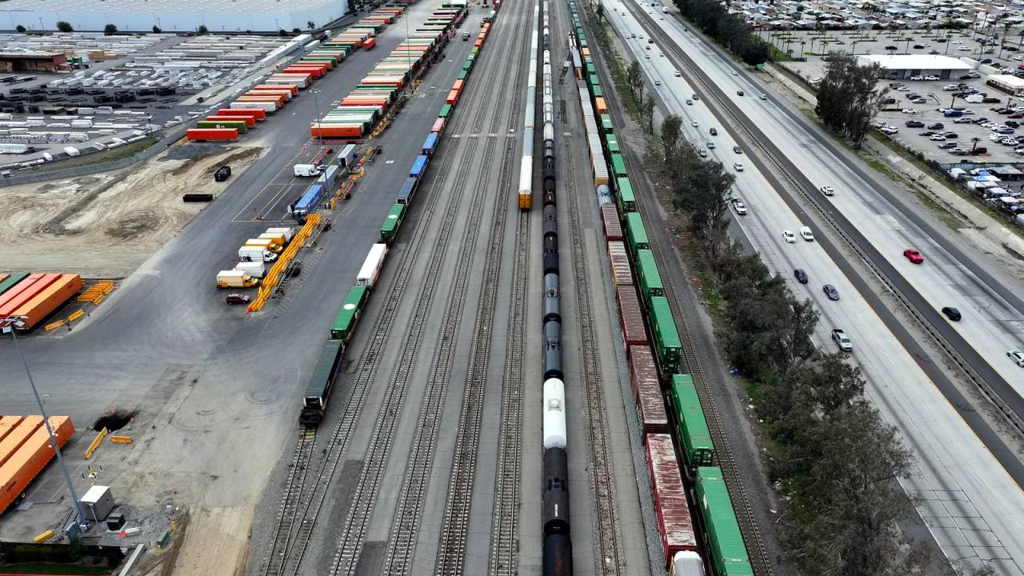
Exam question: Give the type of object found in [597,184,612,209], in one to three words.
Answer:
rail car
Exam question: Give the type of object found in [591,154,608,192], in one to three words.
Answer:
rail car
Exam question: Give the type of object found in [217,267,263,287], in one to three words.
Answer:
vehicle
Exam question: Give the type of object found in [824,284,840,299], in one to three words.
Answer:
car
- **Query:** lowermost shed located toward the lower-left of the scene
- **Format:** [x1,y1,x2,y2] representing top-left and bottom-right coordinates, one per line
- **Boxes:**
[78,485,115,519]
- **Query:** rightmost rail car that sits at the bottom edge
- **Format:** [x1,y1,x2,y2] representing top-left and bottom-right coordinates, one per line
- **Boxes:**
[643,434,697,572]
